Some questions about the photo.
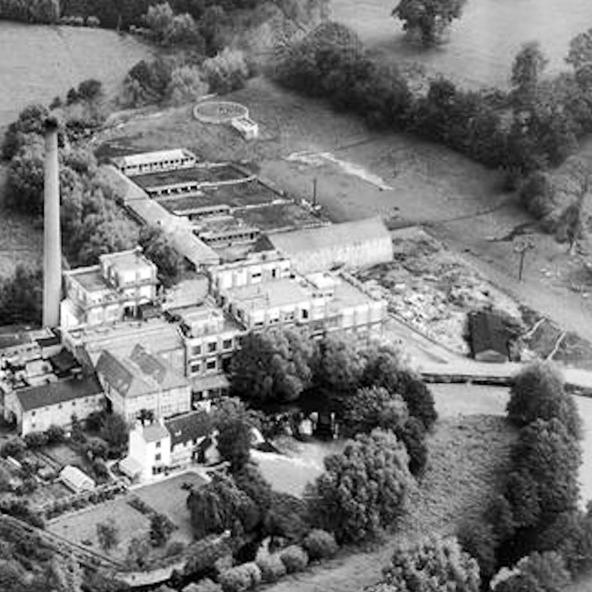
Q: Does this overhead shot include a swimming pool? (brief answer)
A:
No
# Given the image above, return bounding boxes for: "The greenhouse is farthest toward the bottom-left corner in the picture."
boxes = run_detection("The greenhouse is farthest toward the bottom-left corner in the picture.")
[62,464,99,496]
